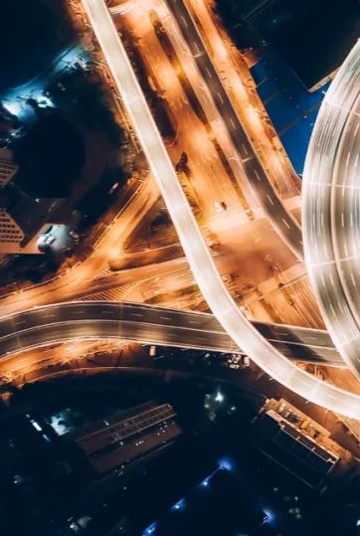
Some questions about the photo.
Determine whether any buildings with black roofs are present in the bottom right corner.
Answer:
Yes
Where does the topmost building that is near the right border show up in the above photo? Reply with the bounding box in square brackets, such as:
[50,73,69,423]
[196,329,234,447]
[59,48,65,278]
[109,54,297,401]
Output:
[245,0,348,102]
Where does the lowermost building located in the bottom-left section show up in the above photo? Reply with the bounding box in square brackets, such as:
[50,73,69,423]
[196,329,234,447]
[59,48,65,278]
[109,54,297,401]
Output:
[57,484,127,536]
